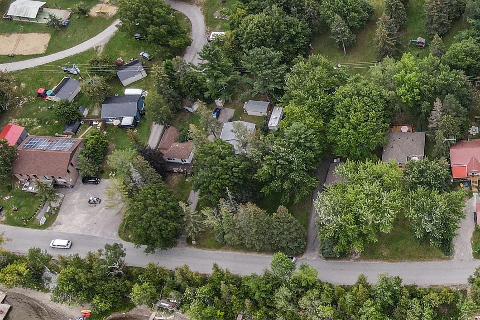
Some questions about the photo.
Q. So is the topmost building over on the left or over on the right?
left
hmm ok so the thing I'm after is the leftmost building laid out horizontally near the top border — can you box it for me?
[3,0,72,24]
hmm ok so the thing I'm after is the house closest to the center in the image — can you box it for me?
[220,121,258,153]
